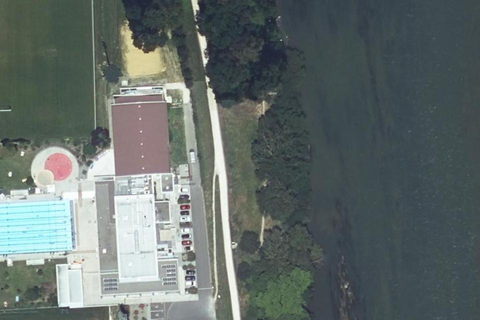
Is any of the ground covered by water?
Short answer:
Yes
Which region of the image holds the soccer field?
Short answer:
top left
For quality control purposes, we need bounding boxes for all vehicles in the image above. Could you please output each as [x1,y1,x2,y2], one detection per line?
[179,204,190,210]
[182,240,192,246]
[184,276,196,281]
[180,216,190,222]
[179,188,189,193]
[180,210,190,216]
[183,246,193,251]
[179,194,190,200]
[186,281,196,286]
[186,270,196,275]
[180,234,192,240]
